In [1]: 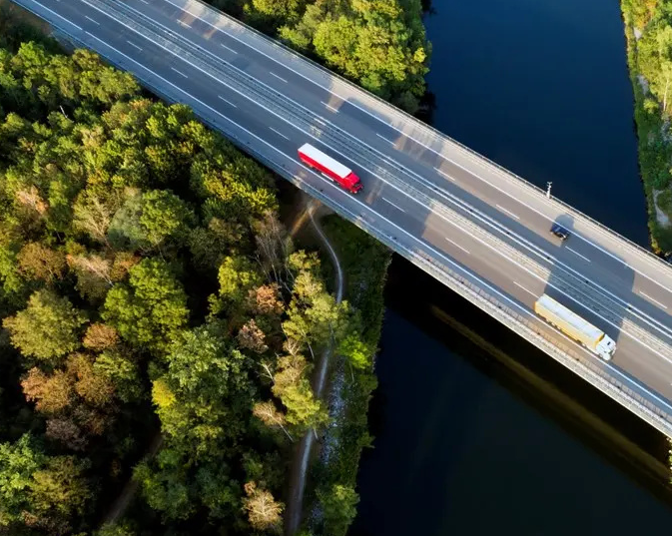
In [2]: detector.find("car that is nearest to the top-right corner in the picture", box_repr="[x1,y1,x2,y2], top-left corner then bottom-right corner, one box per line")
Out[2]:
[549,225,572,241]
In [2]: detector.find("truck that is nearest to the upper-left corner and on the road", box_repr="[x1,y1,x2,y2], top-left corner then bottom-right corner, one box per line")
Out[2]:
[297,142,361,193]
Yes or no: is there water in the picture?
Yes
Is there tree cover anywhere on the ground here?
Yes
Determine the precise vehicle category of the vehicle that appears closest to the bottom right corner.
truck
